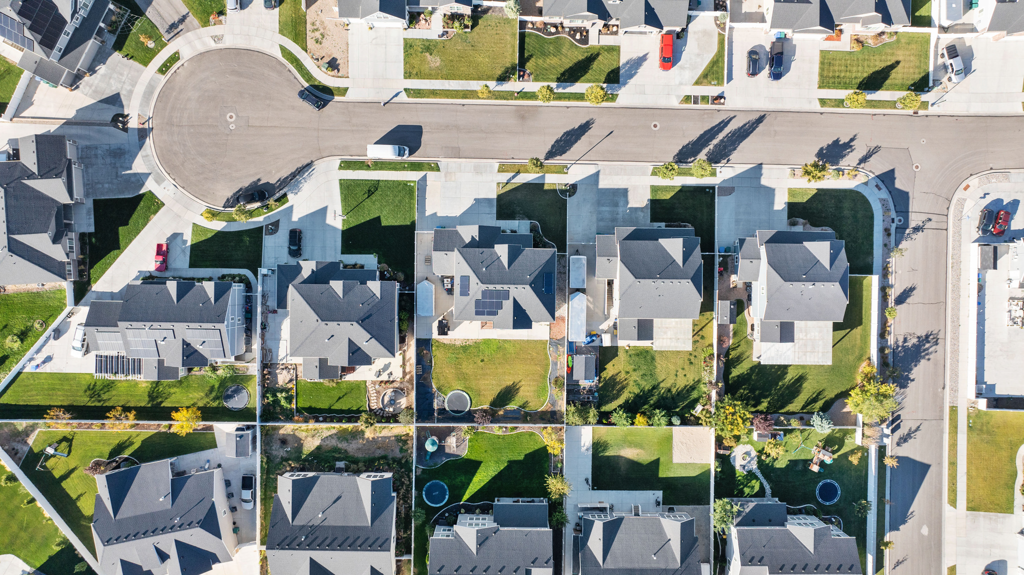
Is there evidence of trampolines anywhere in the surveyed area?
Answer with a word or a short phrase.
Yes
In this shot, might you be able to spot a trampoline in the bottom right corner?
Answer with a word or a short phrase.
Yes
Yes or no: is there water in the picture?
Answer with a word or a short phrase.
No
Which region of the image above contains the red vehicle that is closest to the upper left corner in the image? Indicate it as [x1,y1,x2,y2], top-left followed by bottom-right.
[152,241,170,273]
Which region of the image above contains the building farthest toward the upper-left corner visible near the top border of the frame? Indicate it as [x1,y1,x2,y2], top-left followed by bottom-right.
[0,0,124,89]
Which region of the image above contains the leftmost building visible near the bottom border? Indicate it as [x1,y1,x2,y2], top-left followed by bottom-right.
[89,459,239,575]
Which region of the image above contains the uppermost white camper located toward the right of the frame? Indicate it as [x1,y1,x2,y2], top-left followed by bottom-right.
[923,0,951,28]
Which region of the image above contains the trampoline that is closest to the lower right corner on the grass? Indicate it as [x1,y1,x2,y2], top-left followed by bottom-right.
[814,479,841,505]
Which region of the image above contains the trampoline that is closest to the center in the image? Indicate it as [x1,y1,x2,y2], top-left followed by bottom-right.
[444,388,471,415]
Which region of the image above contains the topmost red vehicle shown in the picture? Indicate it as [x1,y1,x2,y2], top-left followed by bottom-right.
[658,33,674,71]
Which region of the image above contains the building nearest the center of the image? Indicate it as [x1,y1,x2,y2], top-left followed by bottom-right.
[431,224,557,330]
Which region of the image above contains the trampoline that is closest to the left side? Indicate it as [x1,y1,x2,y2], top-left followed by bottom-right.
[222,383,251,411]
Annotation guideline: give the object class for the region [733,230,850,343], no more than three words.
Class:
house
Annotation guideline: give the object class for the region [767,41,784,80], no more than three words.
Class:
vehicle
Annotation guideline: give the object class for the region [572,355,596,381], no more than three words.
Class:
shed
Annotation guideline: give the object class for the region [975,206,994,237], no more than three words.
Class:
car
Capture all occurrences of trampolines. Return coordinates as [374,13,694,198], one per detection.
[222,383,251,411]
[422,479,449,506]
[444,388,471,415]
[814,479,841,505]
